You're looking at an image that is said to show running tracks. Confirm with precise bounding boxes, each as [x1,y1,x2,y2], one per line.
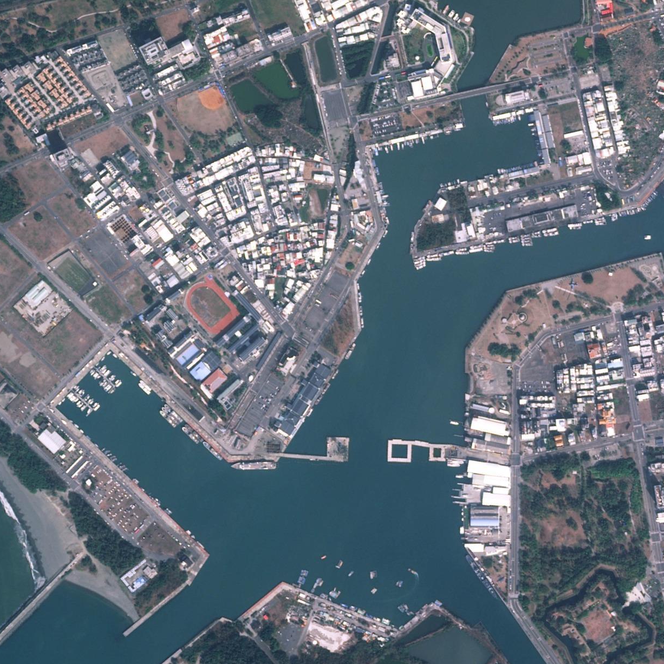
[185,275,238,334]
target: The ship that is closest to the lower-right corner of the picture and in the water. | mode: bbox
[468,557,497,600]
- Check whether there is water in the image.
Yes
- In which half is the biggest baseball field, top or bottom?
top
